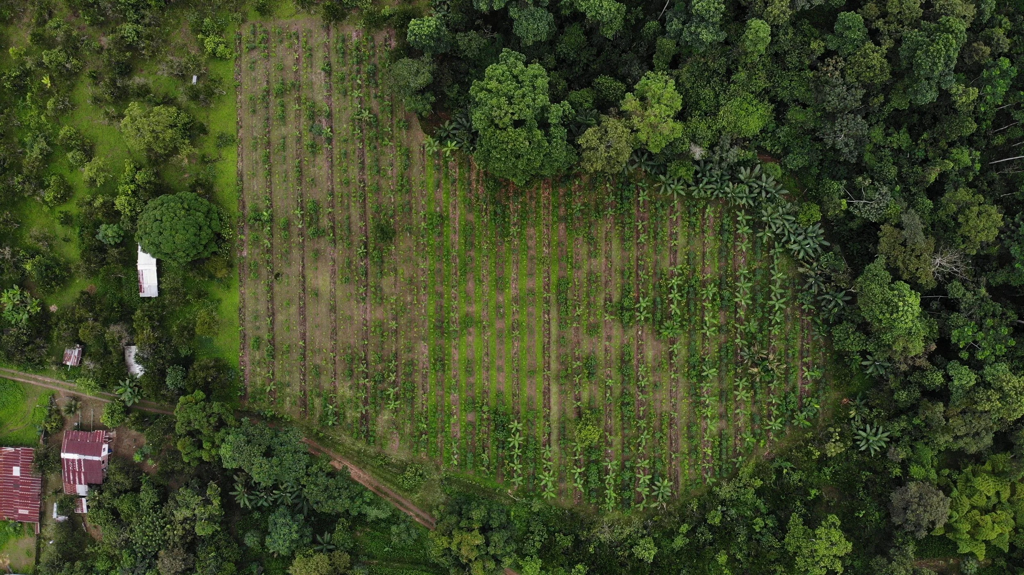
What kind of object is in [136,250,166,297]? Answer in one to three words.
shed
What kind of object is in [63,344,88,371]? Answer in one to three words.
shed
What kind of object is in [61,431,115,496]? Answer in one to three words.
house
